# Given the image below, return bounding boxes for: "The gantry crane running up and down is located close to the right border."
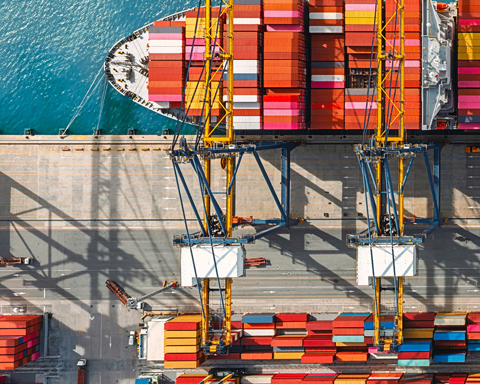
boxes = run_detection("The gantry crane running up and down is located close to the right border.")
[348,0,457,352]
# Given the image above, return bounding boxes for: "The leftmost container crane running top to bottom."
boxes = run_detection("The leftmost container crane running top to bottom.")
[164,0,313,352]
